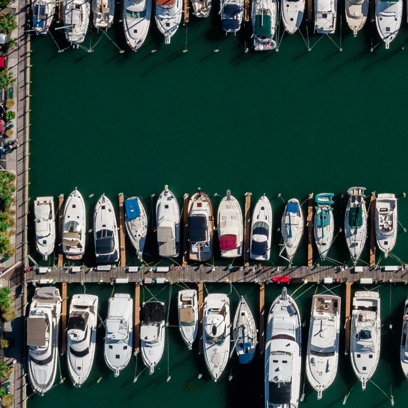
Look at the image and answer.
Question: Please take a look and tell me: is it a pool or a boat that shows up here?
boat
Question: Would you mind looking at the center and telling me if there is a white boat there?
Yes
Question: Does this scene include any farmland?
No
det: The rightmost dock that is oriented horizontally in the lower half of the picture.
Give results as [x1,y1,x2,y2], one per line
[30,264,408,282]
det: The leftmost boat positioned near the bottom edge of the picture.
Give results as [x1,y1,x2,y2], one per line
[25,285,62,402]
